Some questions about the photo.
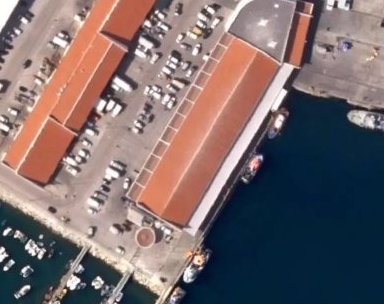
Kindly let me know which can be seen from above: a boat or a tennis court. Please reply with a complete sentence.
Of the two, only a boat appears.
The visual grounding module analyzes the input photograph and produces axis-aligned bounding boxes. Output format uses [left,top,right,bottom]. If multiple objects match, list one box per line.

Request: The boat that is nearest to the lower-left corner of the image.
[14,285,30,300]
